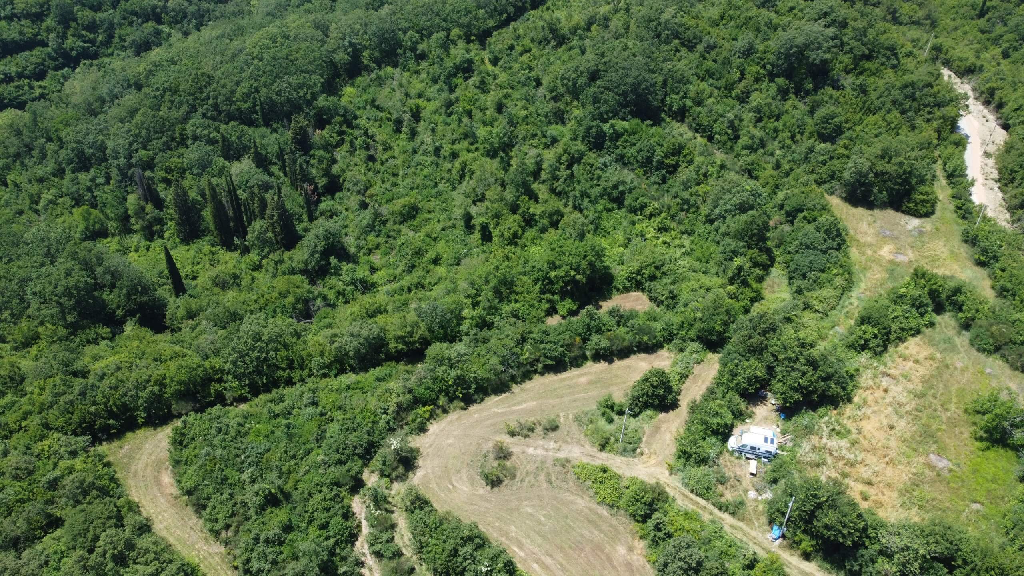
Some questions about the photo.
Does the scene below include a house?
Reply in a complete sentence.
No, no house is visible in the scene.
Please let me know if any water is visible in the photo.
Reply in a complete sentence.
No, the picture contains no water.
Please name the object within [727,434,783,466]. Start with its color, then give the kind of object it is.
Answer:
white camper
